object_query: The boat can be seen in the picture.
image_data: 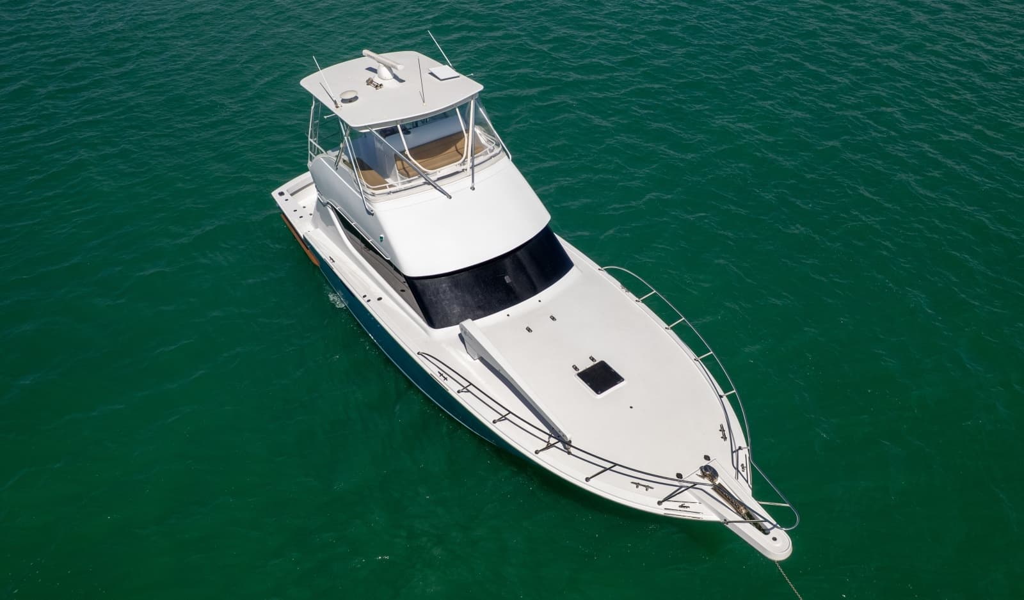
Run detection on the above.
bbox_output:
[271,29,799,560]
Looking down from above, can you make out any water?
Yes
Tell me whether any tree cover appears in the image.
No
